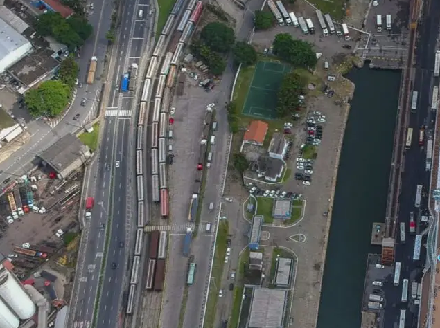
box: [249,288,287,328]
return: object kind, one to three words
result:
building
